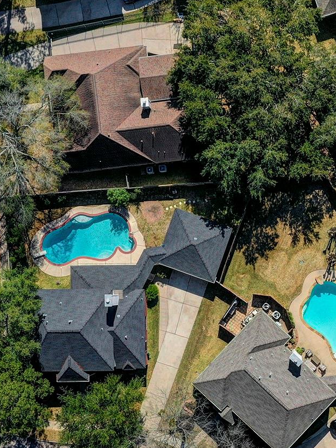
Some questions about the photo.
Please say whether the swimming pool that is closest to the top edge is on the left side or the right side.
left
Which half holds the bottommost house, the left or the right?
right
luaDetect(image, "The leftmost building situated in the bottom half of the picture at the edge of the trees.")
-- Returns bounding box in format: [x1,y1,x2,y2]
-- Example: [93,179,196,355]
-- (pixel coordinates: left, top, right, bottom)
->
[37,208,233,382]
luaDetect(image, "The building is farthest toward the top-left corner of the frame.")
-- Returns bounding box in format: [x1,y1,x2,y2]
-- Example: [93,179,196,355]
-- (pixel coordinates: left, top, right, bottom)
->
[43,45,186,174]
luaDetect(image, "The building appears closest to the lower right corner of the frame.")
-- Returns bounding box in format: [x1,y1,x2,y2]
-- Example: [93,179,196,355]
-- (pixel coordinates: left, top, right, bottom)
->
[192,310,336,448]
